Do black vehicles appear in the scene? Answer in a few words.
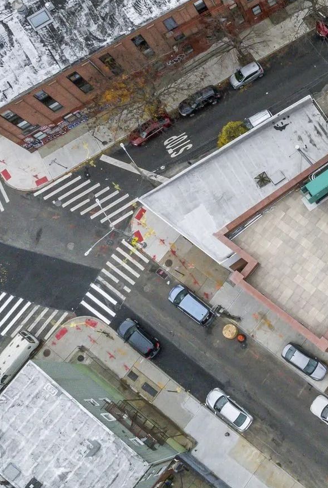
Yes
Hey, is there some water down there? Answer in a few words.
No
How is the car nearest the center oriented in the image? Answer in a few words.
at an angle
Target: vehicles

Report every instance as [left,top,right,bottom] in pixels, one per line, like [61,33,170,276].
[126,110,177,150]
[276,337,328,386]
[305,389,328,427]
[224,57,271,93]
[0,325,47,395]
[177,82,226,121]
[112,315,166,364]
[201,384,258,439]
[164,281,221,333]
[238,101,279,136]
